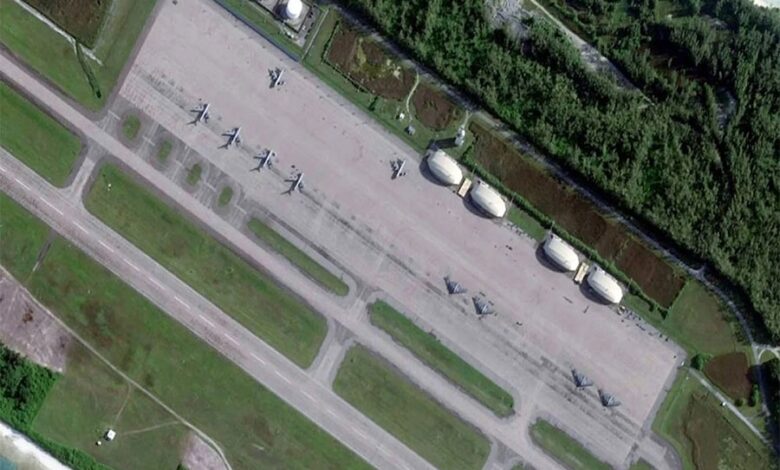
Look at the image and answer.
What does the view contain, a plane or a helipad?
plane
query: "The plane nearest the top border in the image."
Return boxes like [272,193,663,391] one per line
[271,69,290,86]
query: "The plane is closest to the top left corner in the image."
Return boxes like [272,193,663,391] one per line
[192,106,210,122]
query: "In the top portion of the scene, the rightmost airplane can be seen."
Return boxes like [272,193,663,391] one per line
[393,159,412,177]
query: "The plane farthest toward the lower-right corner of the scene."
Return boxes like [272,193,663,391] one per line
[598,388,622,403]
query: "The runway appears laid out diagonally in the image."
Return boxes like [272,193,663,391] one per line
[0,147,433,470]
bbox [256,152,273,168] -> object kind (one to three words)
airplane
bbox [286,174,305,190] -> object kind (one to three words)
airplane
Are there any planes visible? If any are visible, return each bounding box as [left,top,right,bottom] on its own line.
[473,297,496,312]
[224,129,241,145]
[271,69,290,86]
[192,106,210,122]
[393,159,412,177]
[286,174,305,190]
[571,369,594,385]
[598,388,622,403]
[256,152,273,168]
[444,277,468,291]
